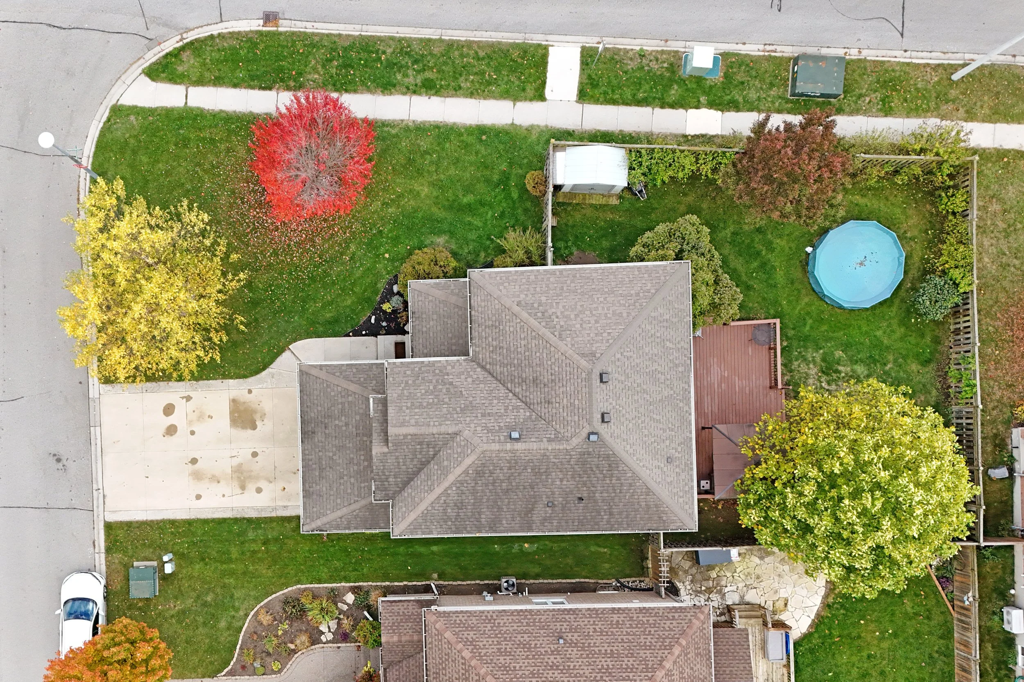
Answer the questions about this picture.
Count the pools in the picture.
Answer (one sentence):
My tally gives 1 pool in this photo.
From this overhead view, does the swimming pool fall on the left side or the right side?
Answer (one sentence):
You can find the swimming pool on the right side of the picture.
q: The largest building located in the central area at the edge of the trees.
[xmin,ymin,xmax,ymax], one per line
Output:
[298,260,697,538]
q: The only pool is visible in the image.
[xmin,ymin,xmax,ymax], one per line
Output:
[808,220,905,309]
